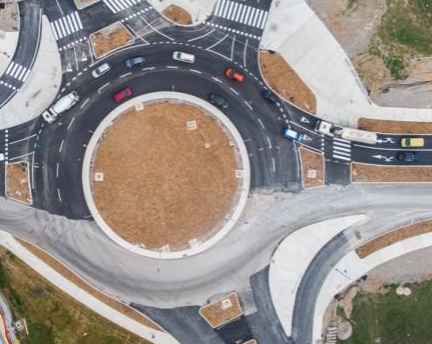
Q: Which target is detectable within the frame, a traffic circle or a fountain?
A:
traffic circle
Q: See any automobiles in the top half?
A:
Yes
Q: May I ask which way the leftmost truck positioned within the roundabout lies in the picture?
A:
diagonally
